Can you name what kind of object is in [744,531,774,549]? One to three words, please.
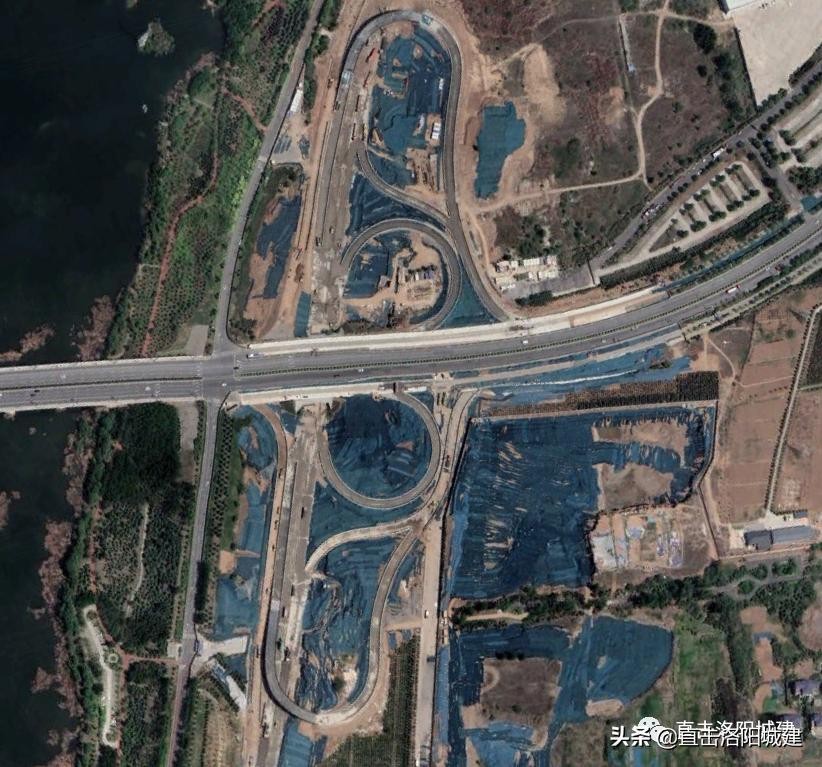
house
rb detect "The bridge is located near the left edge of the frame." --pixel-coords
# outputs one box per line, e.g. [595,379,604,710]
[0,361,118,411]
